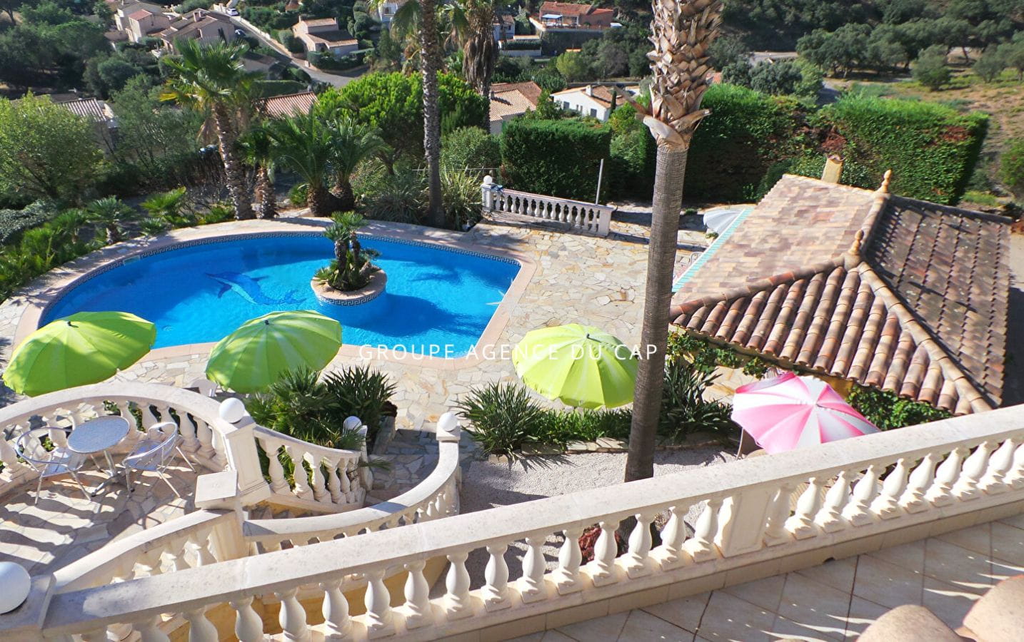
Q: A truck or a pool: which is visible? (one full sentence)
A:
It is a pool that can be seen here.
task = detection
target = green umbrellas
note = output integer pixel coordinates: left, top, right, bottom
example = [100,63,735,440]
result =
[521,313,641,439]
[2,305,161,415]
[199,308,345,400]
